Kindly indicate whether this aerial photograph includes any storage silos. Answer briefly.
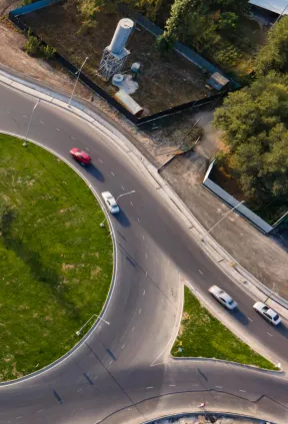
Yes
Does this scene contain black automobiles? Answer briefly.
No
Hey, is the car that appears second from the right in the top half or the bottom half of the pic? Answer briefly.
bottom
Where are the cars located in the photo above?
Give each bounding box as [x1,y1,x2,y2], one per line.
[101,192,121,214]
[251,302,283,325]
[68,148,92,167]
[207,286,238,310]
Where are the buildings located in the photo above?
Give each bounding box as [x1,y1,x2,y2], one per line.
[240,0,288,33]
[205,71,230,94]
